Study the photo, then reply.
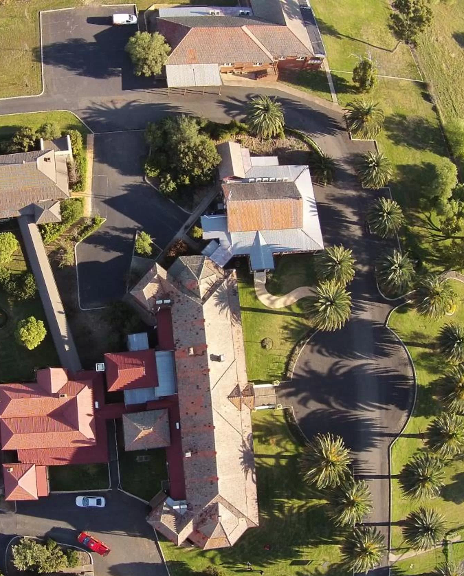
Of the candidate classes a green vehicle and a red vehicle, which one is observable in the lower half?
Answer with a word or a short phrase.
red vehicle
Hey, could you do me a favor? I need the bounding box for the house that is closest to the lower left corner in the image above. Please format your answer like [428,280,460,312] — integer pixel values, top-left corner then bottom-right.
[3,463,51,500]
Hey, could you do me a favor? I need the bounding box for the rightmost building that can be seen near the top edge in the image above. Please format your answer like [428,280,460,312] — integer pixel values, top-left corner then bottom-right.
[156,0,326,96]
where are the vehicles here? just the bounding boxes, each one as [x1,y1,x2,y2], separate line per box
[78,532,111,562]
[75,496,105,510]
[113,10,137,24]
